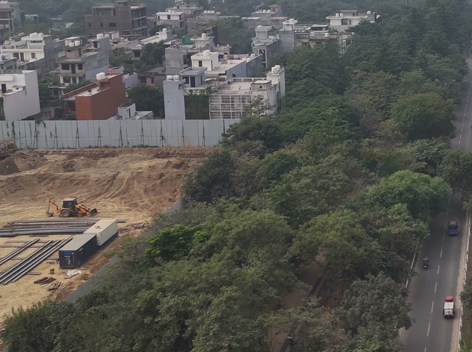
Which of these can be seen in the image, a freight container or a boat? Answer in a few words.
freight container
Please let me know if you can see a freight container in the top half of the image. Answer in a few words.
No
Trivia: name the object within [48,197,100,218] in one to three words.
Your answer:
work vehicle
